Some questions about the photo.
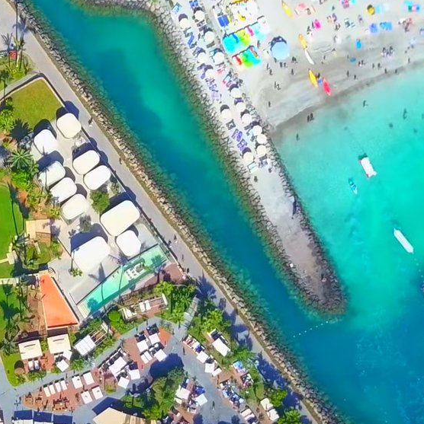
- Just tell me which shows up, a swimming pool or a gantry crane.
swimming pool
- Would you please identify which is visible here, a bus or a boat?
boat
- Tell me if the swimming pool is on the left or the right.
left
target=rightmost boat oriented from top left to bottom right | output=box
[393,227,416,254]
